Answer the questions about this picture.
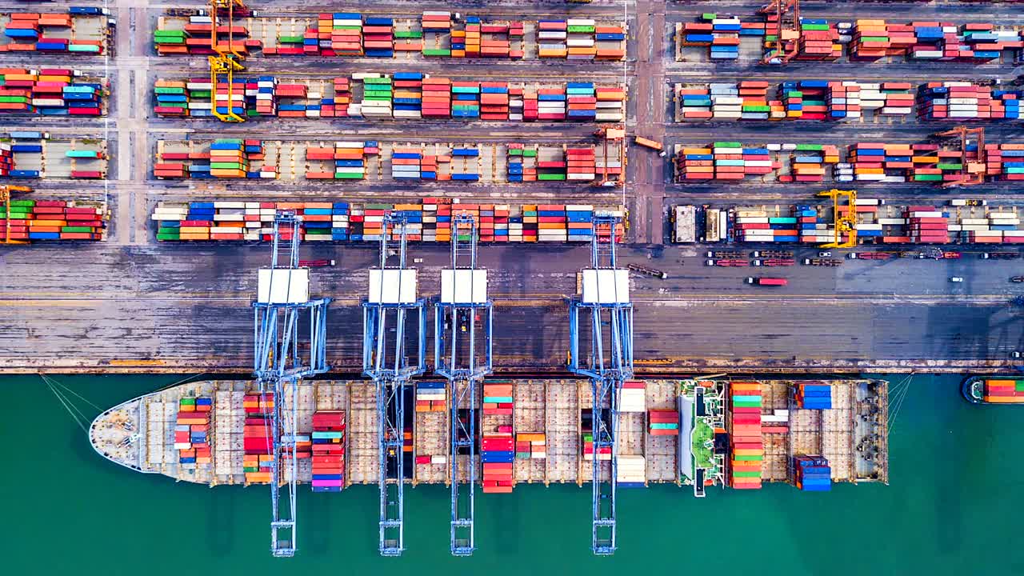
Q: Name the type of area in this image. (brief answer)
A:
port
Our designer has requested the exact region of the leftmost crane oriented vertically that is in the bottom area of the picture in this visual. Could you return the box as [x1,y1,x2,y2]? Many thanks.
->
[250,203,343,559]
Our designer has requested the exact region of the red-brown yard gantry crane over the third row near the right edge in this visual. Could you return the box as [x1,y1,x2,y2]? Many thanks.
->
[935,127,988,191]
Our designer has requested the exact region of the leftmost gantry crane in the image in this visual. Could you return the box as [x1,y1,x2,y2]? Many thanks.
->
[0,186,40,249]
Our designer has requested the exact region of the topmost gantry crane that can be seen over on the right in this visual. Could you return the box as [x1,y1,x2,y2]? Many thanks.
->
[758,0,799,69]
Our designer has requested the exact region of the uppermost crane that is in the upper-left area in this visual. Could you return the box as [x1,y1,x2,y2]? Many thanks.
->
[211,0,251,64]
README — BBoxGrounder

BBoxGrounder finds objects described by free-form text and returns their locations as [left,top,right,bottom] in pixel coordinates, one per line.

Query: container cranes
[360,203,437,558]
[0,186,40,249]
[558,204,637,557]
[250,203,343,559]
[211,0,251,64]
[432,203,503,558]
[210,56,250,126]
[935,127,988,191]
[758,0,799,69]
[594,124,625,190]
[812,190,855,251]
